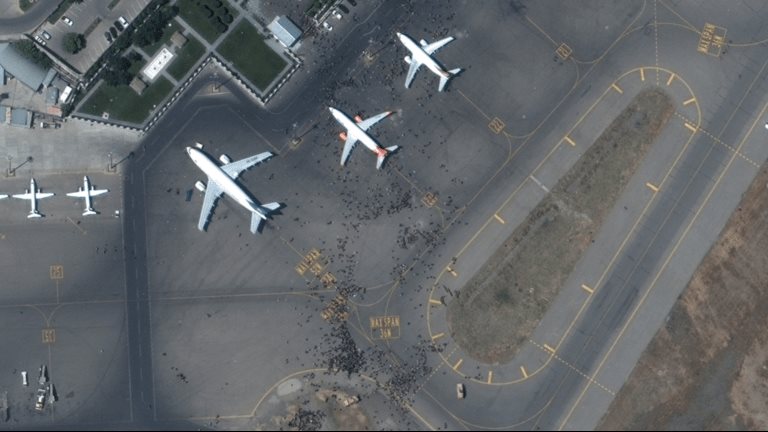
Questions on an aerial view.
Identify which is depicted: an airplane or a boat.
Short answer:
airplane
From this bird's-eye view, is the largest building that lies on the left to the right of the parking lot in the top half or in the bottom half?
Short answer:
top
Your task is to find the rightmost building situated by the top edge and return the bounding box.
[264,15,302,50]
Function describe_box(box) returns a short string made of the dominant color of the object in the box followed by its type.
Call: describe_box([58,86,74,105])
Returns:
white vehicle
